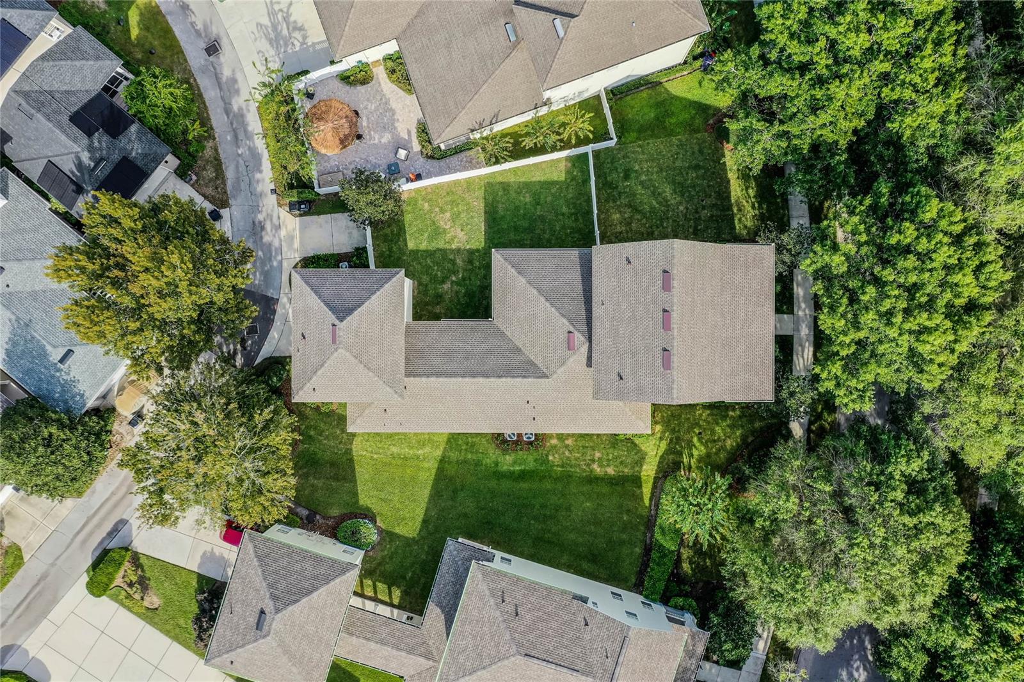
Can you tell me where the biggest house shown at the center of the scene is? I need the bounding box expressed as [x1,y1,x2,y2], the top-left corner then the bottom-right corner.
[291,239,775,434]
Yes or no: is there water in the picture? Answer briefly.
No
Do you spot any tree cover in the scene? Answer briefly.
Yes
